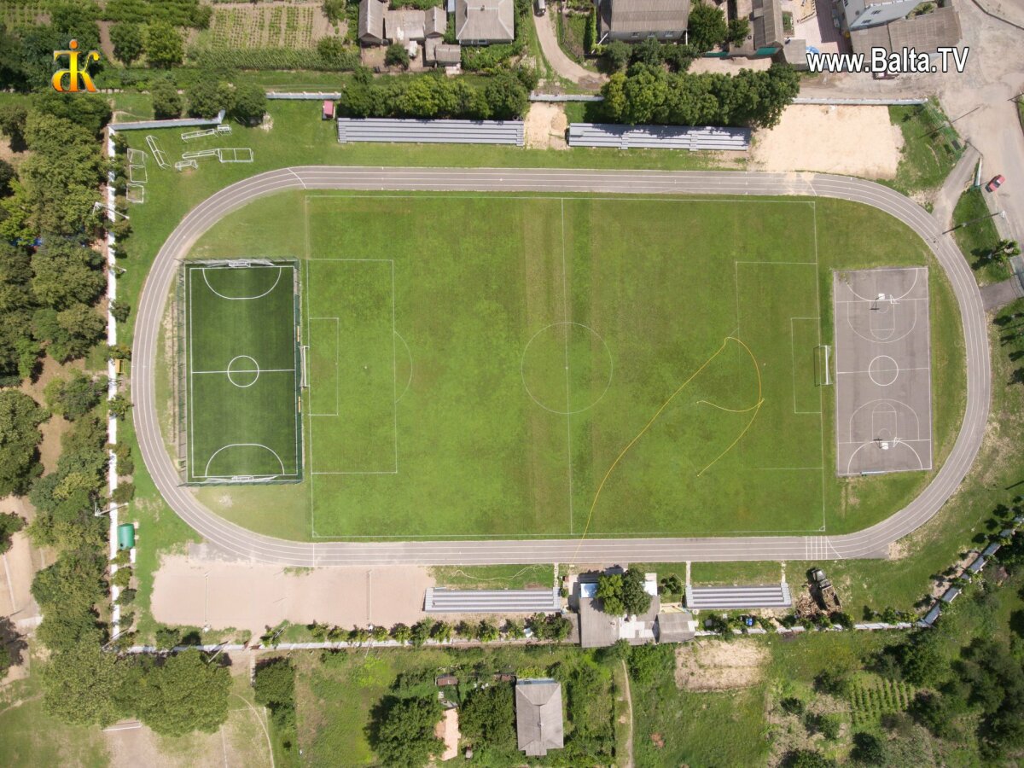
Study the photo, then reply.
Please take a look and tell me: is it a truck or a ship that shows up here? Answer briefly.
truck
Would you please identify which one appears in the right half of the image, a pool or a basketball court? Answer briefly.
basketball court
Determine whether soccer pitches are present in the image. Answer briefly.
Yes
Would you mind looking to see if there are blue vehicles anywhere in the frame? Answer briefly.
No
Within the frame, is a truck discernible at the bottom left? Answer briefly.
No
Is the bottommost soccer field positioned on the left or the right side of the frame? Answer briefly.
left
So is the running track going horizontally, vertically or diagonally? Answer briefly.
horizontally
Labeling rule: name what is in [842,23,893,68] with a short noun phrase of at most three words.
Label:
building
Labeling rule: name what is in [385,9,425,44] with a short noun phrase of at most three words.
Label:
shed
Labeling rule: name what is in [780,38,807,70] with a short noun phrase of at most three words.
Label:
building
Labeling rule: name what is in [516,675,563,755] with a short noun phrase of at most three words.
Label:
house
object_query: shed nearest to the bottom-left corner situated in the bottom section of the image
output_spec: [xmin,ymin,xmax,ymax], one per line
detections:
[114,523,138,553]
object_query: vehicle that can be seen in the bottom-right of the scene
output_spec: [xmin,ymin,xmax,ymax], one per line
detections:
[810,565,844,613]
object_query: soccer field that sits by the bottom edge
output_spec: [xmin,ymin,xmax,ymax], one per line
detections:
[98,707,270,768]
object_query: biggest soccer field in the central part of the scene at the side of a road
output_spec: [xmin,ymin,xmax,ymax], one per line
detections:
[305,193,830,541]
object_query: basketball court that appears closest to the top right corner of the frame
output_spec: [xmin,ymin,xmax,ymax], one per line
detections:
[833,266,933,477]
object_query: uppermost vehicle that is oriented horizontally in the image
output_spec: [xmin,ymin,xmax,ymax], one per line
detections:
[875,68,900,81]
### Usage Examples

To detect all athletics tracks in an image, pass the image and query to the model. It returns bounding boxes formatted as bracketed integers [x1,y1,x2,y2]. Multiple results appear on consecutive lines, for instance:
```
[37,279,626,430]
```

[131,166,991,566]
